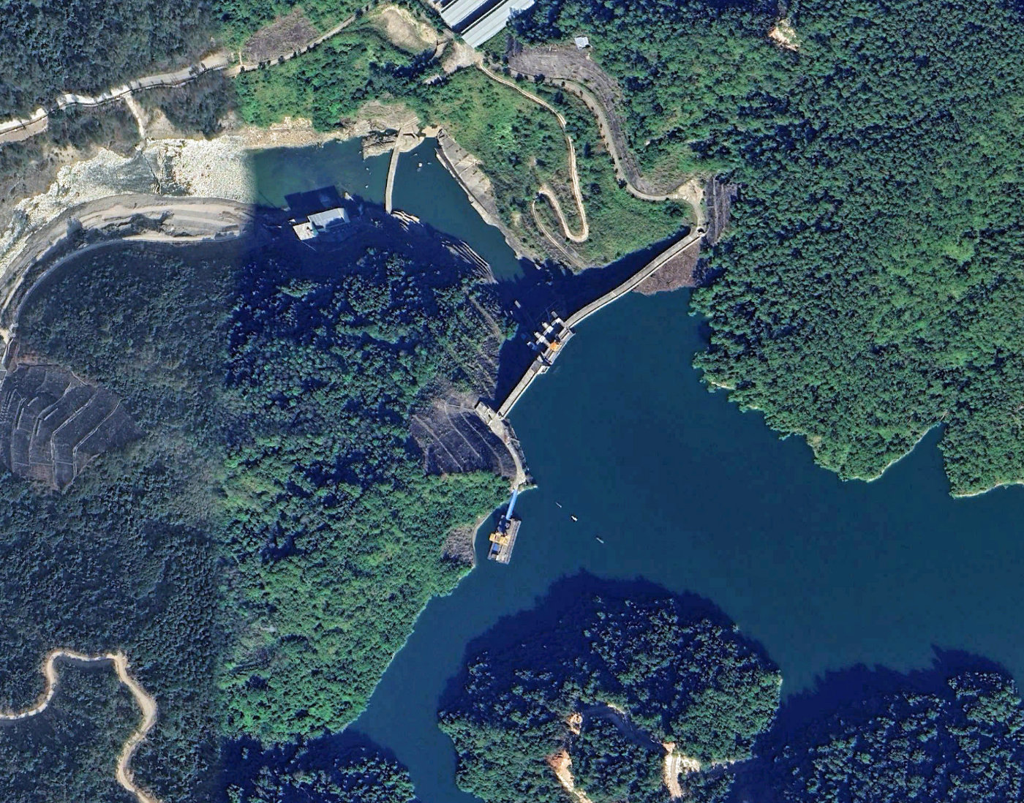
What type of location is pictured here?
port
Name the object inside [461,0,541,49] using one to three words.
shed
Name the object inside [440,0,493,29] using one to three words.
shed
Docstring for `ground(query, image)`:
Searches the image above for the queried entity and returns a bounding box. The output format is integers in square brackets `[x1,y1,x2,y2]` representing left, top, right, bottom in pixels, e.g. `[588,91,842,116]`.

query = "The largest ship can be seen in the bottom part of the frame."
[488,515,521,564]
